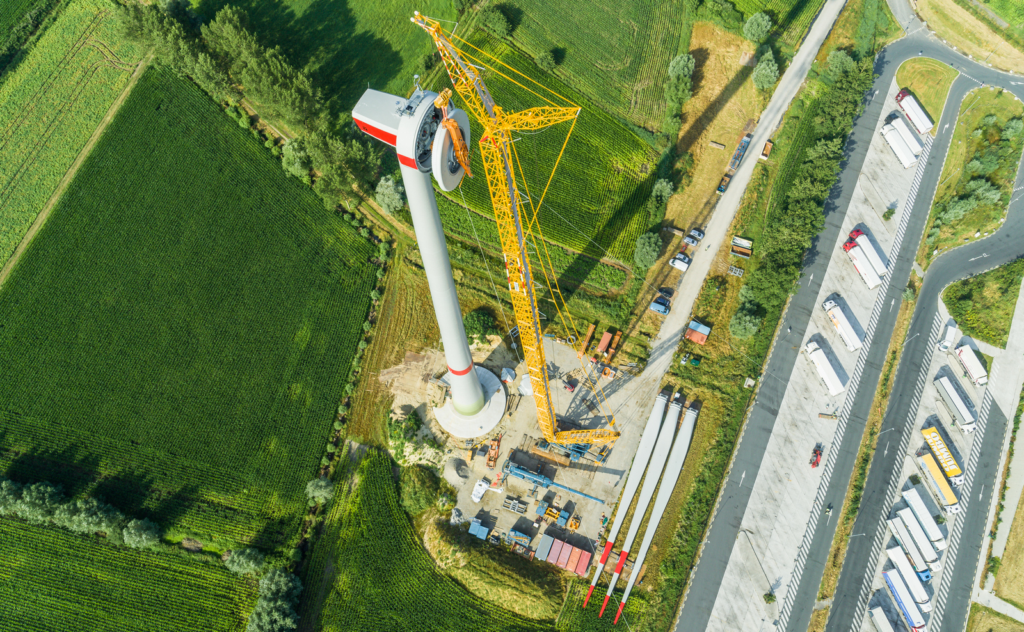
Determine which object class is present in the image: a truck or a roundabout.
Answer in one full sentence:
This aerial view contains a truck.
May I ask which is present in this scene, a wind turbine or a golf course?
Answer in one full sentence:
This aerial view contains a wind turbine.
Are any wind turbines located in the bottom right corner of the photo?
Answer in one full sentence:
No, no wind turbine appears in the bottom right corner of the photo.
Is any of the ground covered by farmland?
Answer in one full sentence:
Yes, there is farmland in the image.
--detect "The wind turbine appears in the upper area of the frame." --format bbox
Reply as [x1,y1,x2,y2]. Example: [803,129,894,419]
[340,62,487,415]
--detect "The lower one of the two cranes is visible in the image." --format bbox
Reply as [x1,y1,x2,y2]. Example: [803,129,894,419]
[505,454,607,503]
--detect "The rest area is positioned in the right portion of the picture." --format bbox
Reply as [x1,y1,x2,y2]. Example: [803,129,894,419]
[675,0,1024,632]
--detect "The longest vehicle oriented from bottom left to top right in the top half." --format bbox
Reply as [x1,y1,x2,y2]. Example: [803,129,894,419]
[727,130,755,169]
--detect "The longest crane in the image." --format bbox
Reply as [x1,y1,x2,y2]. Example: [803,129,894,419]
[409,4,621,472]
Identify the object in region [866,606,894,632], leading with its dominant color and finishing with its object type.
white truck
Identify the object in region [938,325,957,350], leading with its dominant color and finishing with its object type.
white vehicle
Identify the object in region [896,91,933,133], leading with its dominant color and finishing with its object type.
white truck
